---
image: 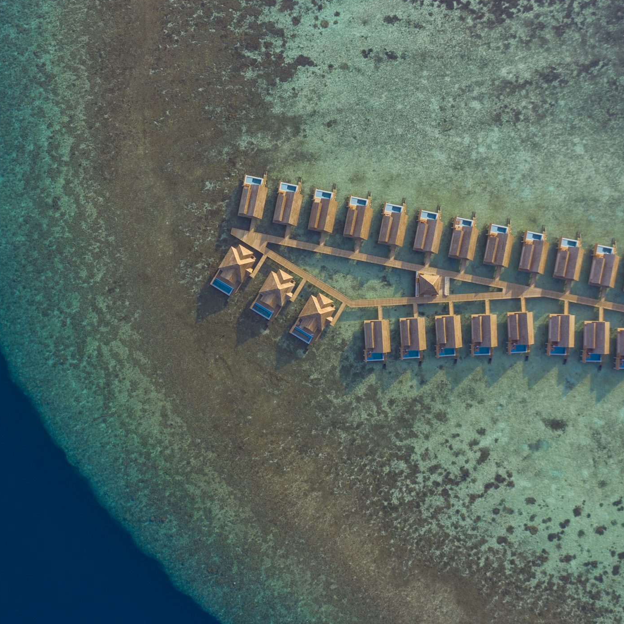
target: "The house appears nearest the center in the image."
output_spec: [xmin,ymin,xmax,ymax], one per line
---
[289,293,337,350]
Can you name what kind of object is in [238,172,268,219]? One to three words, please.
house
